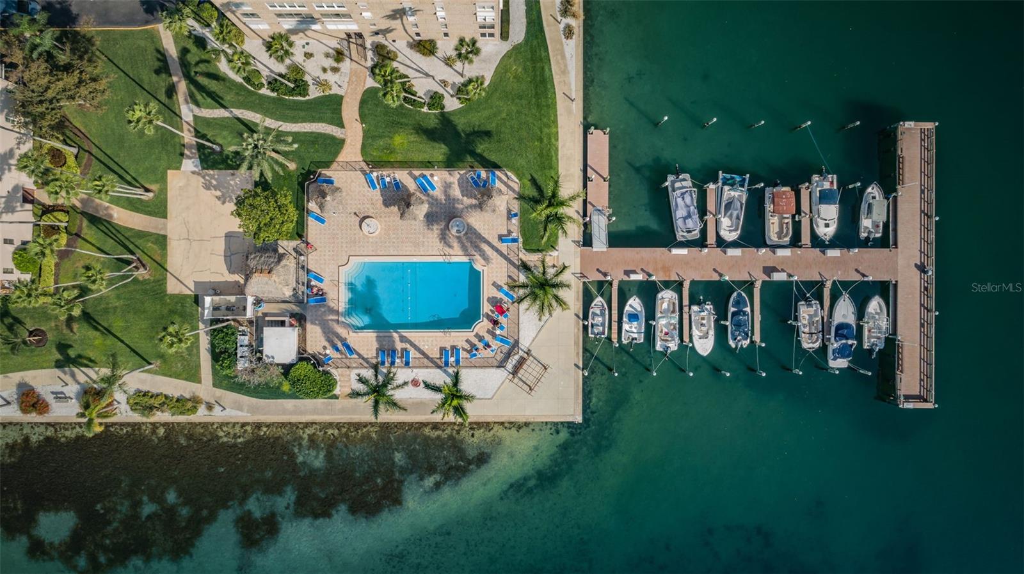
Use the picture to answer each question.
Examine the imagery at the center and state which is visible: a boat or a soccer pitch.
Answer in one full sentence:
What appears at the center is a boat.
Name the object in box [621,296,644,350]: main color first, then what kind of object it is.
white boat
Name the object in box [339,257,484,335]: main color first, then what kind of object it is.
blue swimming pool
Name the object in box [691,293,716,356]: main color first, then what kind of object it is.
white boat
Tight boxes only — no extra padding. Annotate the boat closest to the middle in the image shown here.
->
[589,297,607,343]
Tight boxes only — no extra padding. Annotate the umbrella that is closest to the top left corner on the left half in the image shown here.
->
[311,182,345,218]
